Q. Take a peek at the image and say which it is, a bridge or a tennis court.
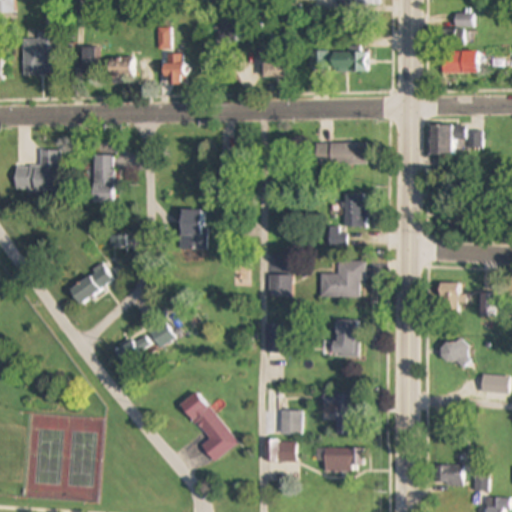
tennis court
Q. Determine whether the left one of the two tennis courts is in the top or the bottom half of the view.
bottom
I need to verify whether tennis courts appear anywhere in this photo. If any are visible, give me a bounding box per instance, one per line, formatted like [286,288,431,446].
[26,414,68,499]
[63,416,104,502]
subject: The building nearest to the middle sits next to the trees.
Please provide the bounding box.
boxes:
[268,274,295,297]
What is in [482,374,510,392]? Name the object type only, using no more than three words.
building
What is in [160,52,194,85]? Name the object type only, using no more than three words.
house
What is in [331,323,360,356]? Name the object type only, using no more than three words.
house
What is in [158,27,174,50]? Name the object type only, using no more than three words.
building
